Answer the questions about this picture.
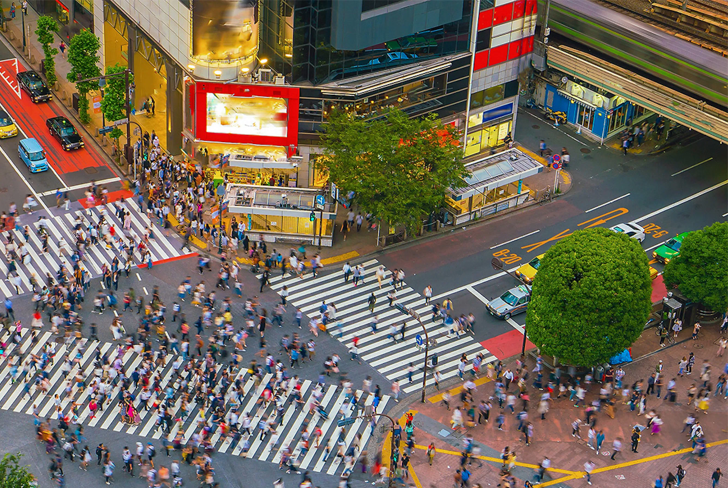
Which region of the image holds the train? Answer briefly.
top right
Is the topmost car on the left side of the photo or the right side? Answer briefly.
left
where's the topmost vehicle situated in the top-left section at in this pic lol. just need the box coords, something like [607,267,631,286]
[16,70,53,103]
